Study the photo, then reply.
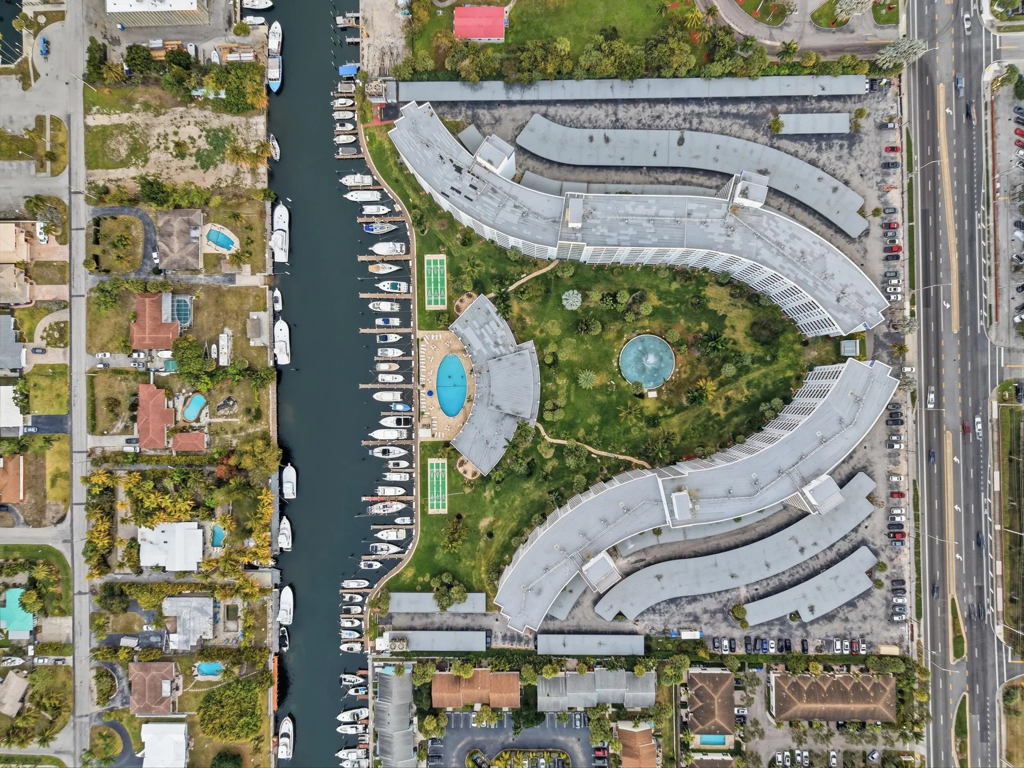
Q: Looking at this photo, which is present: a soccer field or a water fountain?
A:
water fountain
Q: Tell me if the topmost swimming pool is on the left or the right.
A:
left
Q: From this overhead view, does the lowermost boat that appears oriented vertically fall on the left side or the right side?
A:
left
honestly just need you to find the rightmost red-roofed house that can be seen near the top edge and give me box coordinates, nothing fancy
[454,7,504,42]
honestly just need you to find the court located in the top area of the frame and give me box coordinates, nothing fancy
[424,254,447,310]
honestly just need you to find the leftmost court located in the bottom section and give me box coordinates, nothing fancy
[428,458,447,514]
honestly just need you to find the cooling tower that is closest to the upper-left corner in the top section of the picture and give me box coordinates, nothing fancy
[365,84,383,96]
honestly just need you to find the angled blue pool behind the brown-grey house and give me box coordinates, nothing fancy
[205,228,235,251]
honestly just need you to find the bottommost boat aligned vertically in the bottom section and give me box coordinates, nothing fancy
[272,716,292,762]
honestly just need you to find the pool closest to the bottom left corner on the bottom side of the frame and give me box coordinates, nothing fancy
[197,662,223,677]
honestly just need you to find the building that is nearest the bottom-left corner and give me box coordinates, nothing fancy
[0,669,29,719]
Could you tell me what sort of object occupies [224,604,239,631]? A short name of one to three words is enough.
swimming pool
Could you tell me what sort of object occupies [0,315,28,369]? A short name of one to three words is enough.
house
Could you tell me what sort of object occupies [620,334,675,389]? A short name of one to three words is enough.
fountain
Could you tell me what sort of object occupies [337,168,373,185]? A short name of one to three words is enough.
boat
